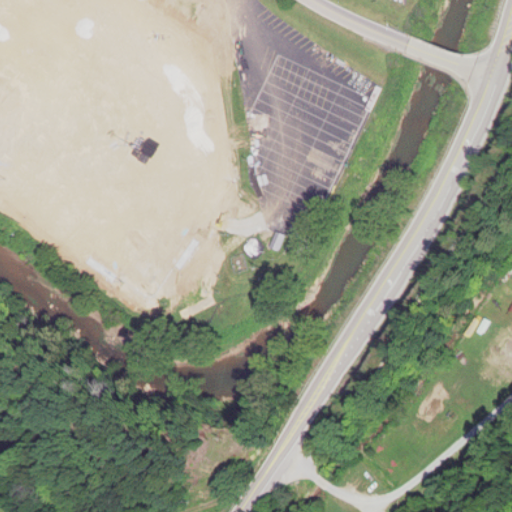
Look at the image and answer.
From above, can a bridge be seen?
Yes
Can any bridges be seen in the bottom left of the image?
No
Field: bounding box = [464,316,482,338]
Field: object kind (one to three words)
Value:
vehicle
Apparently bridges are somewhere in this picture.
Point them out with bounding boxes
[406,38,477,86]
